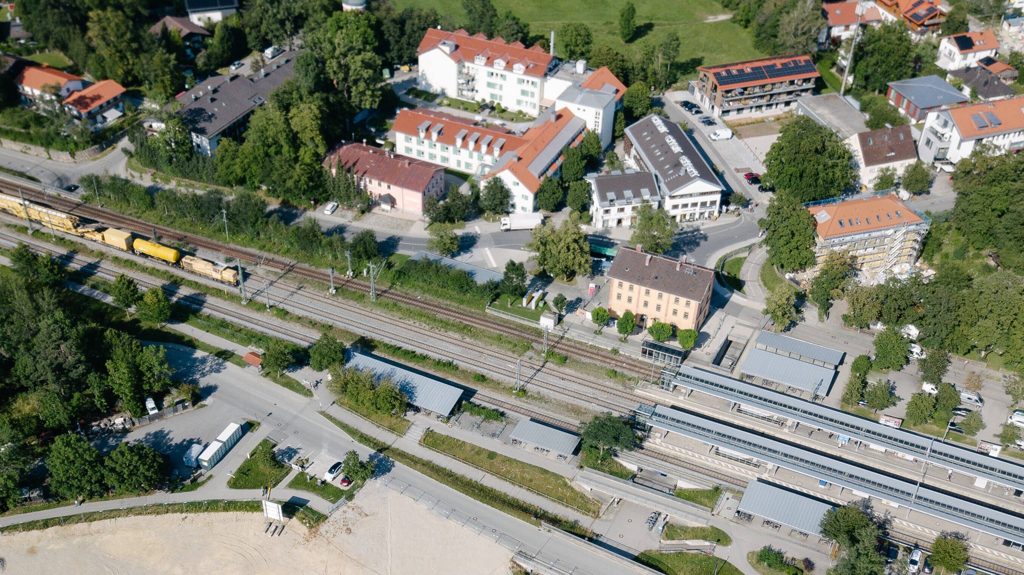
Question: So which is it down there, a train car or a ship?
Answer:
train car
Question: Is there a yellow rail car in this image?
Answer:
Yes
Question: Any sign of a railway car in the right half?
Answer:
No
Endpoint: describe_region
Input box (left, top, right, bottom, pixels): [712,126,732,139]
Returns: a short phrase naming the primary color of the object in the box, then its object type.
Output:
white vehicle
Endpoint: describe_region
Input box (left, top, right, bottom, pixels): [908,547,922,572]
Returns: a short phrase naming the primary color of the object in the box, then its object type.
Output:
white car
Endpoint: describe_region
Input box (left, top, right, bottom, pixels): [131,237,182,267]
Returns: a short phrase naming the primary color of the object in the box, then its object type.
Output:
yellow rail car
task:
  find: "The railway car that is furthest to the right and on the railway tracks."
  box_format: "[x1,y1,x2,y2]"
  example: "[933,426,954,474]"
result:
[179,254,240,285]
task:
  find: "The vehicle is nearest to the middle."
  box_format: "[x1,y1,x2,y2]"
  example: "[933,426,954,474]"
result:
[501,212,545,234]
